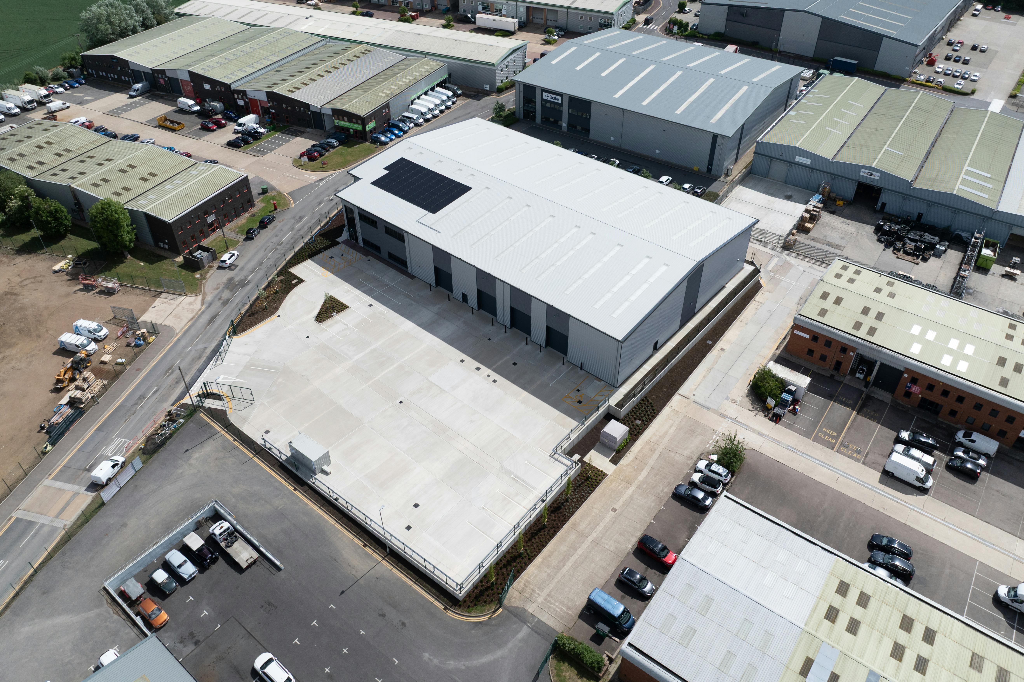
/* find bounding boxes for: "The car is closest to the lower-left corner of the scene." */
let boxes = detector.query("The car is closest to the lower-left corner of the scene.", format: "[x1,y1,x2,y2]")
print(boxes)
[96,641,122,676]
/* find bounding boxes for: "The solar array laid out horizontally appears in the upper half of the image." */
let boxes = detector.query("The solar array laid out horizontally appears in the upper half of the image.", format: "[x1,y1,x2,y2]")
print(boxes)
[370,160,476,214]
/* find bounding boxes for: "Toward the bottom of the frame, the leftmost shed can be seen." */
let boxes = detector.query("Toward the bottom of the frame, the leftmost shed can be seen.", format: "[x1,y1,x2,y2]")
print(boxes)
[89,632,195,682]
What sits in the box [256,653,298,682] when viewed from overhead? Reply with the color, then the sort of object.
white car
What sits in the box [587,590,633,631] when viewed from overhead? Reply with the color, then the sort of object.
blue van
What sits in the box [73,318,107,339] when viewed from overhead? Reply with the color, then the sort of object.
white vehicle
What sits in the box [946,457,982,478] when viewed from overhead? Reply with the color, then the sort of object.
black car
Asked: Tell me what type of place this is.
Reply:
industrial area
